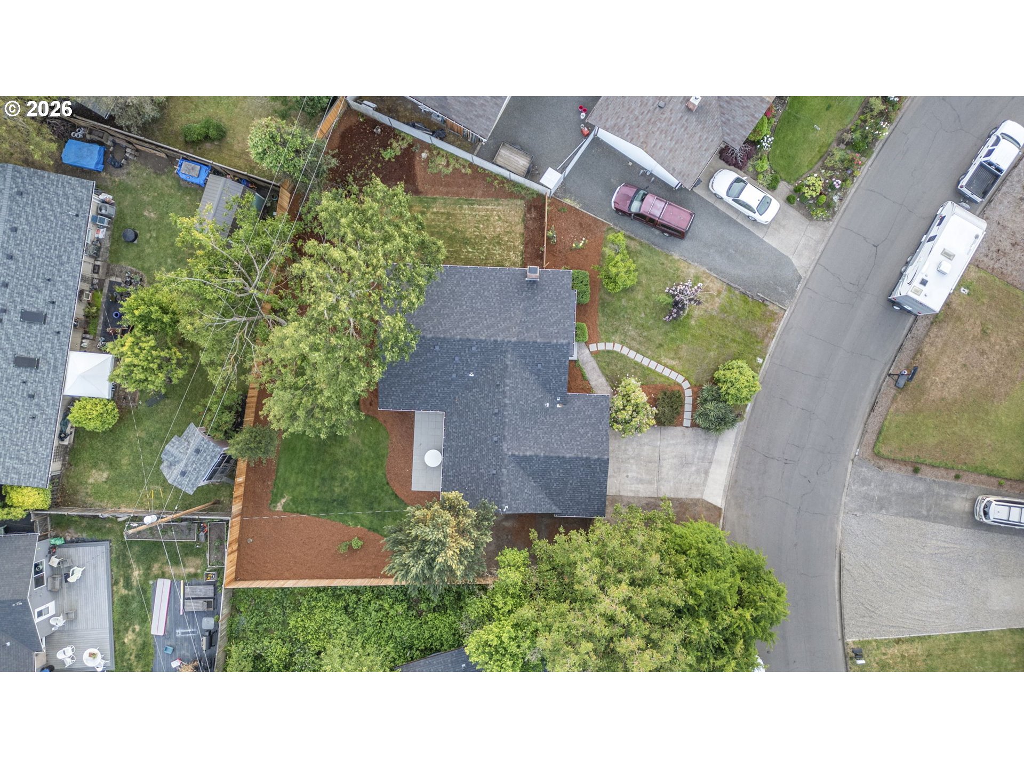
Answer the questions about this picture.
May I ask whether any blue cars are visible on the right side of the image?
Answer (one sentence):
No, the scene shows no blue car on the right side of the image.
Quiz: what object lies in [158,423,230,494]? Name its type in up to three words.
shed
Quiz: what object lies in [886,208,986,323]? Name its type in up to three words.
vehicle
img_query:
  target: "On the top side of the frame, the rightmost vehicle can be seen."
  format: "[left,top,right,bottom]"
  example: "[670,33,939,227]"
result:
[953,107,1024,209]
